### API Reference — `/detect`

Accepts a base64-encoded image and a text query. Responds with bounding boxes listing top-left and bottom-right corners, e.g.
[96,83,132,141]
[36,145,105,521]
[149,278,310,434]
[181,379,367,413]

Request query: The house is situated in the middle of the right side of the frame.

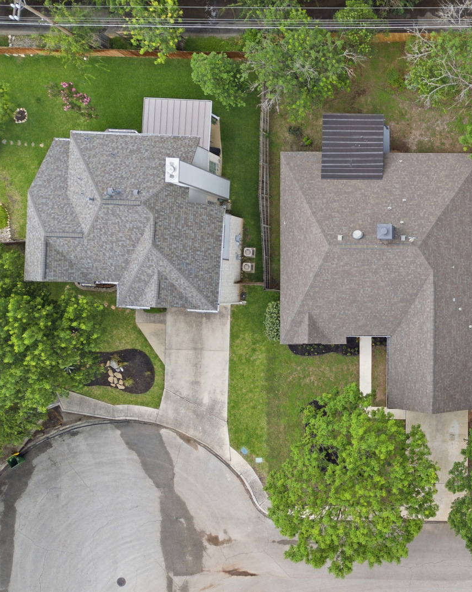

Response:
[279,151,472,414]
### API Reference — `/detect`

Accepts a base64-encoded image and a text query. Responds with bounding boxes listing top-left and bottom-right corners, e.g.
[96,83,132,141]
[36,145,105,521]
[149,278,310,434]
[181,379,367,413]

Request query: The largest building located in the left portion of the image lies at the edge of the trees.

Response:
[24,128,244,315]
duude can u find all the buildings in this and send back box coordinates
[24,128,244,315]
[279,151,472,414]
